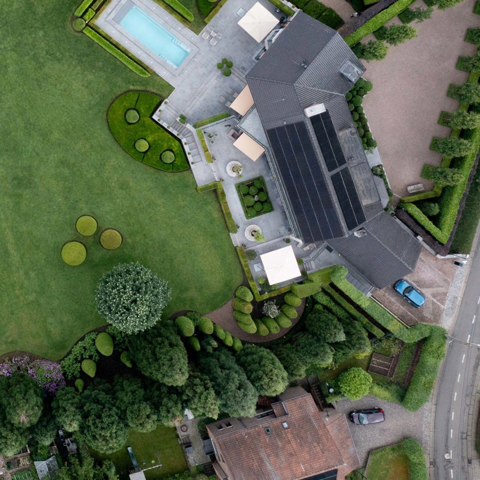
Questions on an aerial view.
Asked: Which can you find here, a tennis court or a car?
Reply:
car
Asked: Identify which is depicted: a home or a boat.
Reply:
home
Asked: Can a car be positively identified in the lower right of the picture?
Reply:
Yes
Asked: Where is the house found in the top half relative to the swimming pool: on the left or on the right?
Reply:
on the right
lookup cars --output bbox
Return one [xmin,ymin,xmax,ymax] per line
[393,279,430,309]
[349,407,386,426]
